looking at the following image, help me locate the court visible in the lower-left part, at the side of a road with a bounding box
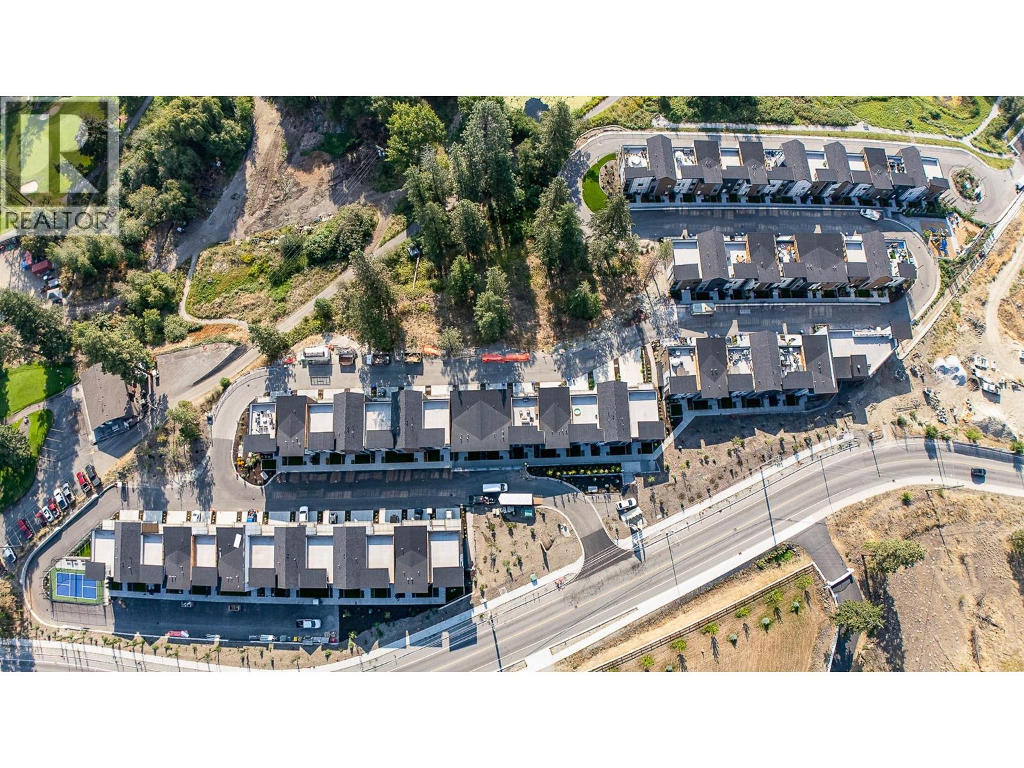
[50,568,104,604]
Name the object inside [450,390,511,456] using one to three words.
house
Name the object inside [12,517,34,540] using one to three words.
truck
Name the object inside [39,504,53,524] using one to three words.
car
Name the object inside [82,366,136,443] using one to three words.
building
